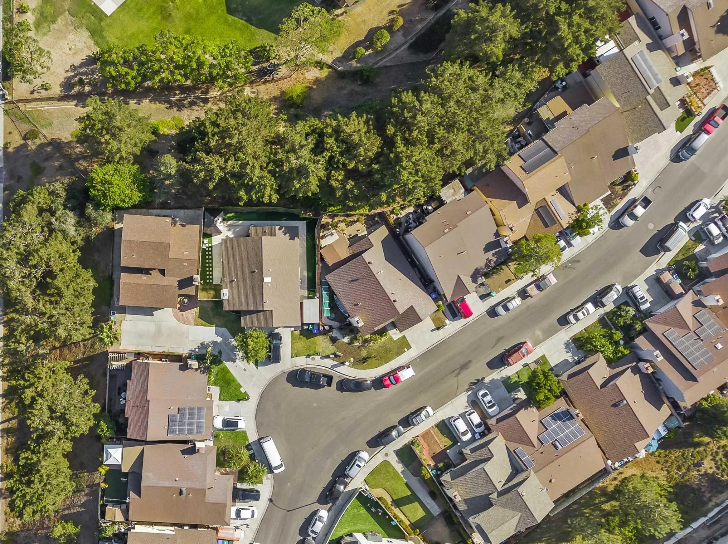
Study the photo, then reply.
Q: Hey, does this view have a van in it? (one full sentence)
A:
Yes, the picture does show a van.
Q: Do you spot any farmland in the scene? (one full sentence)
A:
No, there is no farmland in the image.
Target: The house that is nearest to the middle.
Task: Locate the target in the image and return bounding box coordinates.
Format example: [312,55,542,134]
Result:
[325,225,438,335]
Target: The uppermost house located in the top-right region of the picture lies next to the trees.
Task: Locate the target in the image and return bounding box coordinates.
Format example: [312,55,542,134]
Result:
[627,0,728,63]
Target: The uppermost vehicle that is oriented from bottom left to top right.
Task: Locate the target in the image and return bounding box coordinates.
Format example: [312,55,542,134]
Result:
[695,105,728,135]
